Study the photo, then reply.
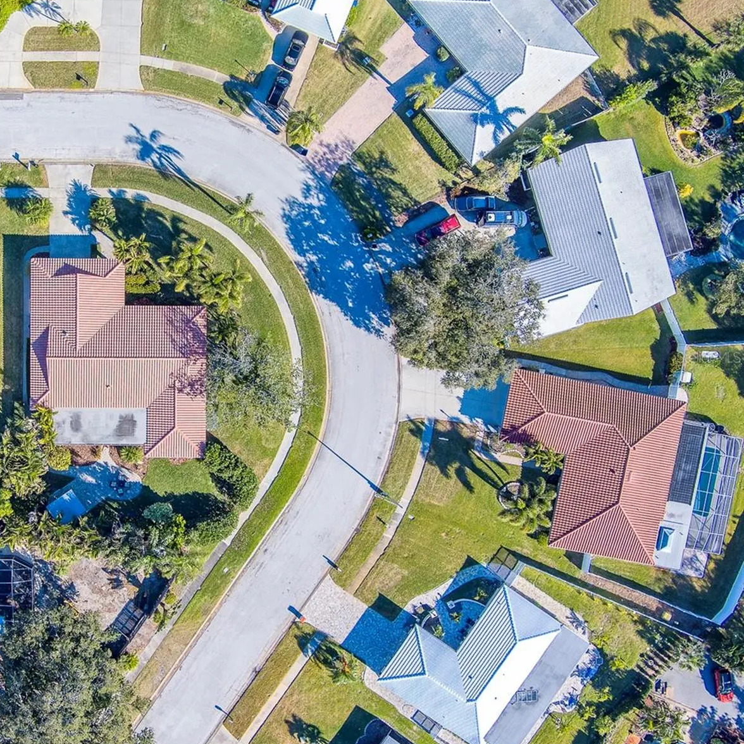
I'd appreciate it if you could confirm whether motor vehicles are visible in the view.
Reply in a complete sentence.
Yes, there is a motor vehicle in the image.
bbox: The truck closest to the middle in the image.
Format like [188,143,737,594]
[413,215,460,244]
